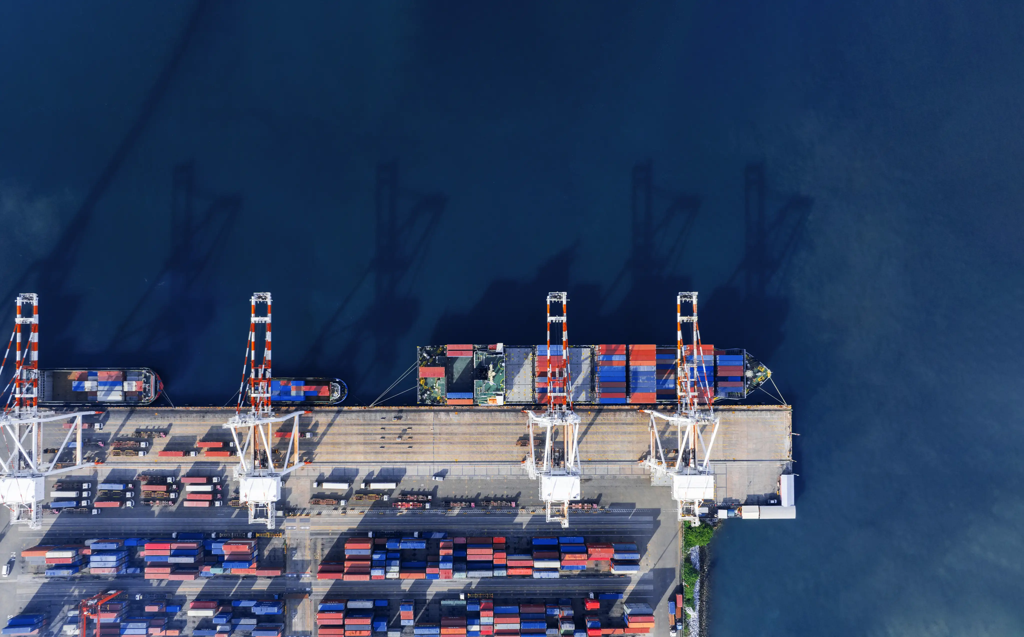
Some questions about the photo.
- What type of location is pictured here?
port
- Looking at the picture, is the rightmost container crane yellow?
No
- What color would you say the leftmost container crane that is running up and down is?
white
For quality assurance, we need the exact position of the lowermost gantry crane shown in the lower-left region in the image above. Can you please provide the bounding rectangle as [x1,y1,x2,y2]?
[80,587,127,637]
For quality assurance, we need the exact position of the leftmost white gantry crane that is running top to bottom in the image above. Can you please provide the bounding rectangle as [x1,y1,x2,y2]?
[0,294,113,531]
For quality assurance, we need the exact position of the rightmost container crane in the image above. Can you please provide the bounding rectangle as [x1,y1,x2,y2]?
[631,291,730,528]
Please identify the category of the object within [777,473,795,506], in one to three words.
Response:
shed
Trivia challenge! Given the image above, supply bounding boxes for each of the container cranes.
[631,291,730,528]
[80,587,127,637]
[518,292,588,529]
[0,294,113,531]
[221,293,316,530]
